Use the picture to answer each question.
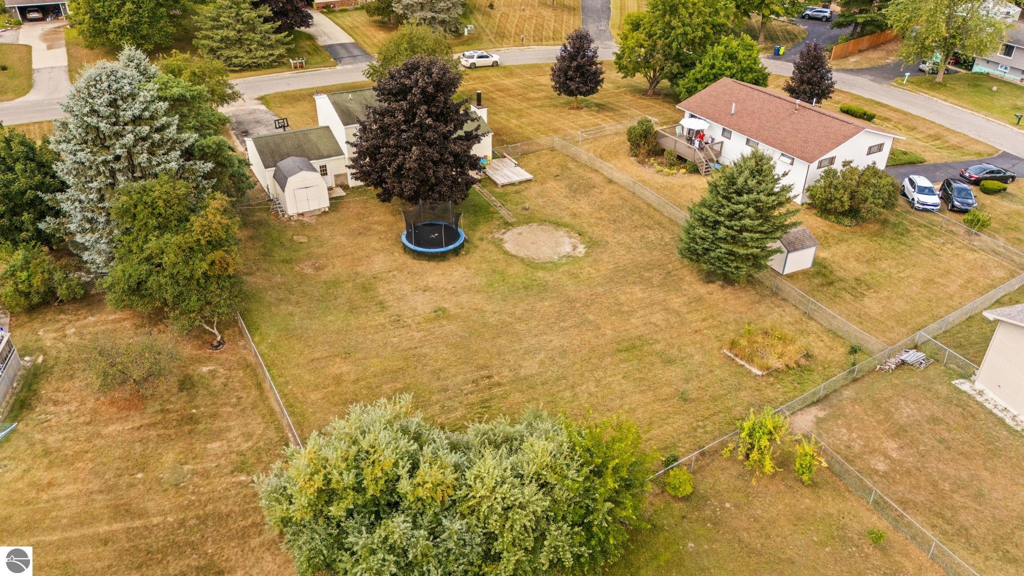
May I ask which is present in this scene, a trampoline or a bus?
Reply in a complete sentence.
There is a trampoline in the scene.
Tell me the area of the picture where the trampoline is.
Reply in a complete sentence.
Look in the center portion of the view to spot the trampoline.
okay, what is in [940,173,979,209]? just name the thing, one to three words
car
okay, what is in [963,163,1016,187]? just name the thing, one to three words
car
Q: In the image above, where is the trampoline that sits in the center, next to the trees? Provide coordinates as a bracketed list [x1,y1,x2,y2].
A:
[397,198,465,256]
